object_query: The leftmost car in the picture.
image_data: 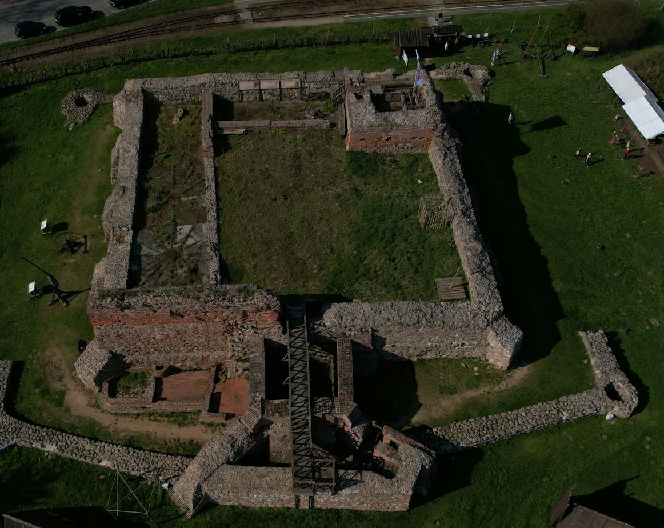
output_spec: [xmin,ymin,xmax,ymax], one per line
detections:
[10,19,47,38]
